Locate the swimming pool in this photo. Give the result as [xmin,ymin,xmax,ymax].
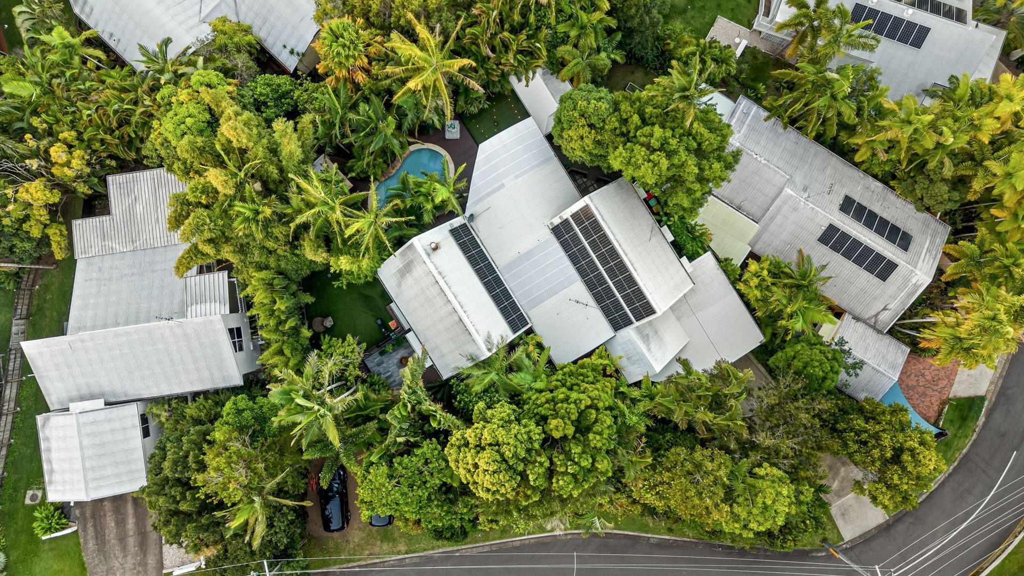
[369,140,454,230]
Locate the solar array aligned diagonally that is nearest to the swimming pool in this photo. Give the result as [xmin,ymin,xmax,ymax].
[449,223,529,332]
